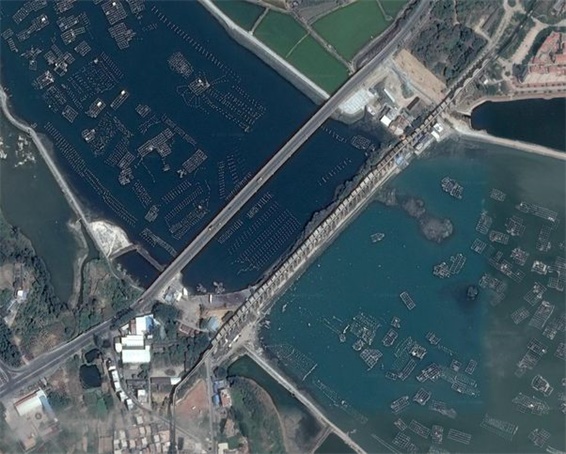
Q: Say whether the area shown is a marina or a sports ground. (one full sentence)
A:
The area seen from above is a marina.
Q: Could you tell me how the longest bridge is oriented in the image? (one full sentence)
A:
The longest bridge is oriented at an angle.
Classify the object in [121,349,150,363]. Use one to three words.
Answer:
building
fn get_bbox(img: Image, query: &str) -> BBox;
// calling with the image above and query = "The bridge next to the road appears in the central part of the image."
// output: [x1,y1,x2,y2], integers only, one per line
[163,112,325,281]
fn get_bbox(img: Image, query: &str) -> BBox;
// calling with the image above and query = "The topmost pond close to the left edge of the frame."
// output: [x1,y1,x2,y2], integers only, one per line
[0,97,99,309]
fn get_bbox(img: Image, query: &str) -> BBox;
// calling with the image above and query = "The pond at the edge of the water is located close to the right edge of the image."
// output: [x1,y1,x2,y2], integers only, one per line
[469,97,566,151]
